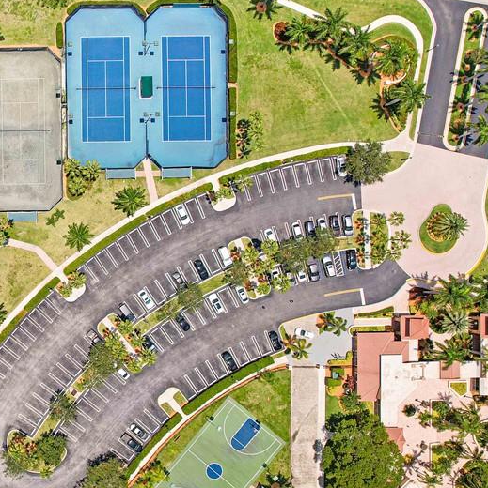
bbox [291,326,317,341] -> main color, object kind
white vehicle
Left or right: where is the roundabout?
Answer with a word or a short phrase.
right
